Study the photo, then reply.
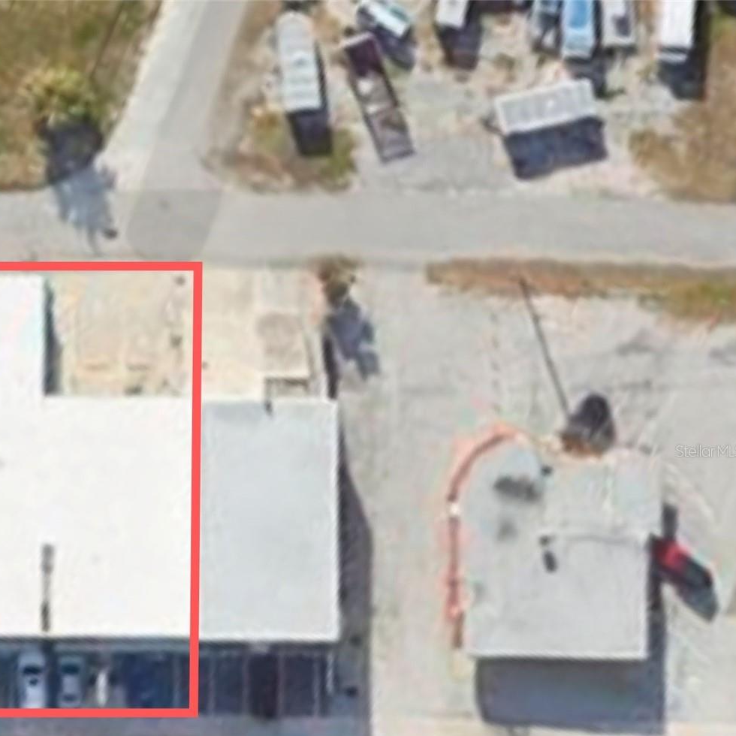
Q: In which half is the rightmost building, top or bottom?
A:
bottom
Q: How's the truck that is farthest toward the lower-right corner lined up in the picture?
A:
on a diagonal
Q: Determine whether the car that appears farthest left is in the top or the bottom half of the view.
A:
bottom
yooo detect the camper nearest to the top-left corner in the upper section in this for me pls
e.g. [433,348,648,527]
[277,11,320,112]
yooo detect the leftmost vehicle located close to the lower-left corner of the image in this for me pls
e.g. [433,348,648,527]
[16,650,47,711]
